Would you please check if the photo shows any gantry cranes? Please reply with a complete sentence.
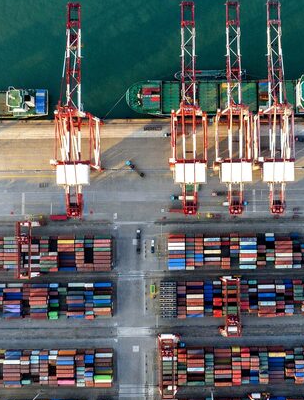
Yes, looking at the shot, I can spot a gantry crane.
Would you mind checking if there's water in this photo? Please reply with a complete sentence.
Yes, there's water in this view.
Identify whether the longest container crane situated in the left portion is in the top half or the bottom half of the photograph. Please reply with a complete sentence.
The longest container crane situated in the left portion sits in the top half of the picture.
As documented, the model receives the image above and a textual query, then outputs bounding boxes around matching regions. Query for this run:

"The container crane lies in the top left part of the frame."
[49,2,105,216]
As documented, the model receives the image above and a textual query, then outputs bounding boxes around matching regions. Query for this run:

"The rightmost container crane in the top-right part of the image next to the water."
[251,0,295,214]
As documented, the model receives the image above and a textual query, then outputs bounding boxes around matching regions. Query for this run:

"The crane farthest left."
[17,223,48,278]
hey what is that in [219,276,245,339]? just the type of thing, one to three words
crane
